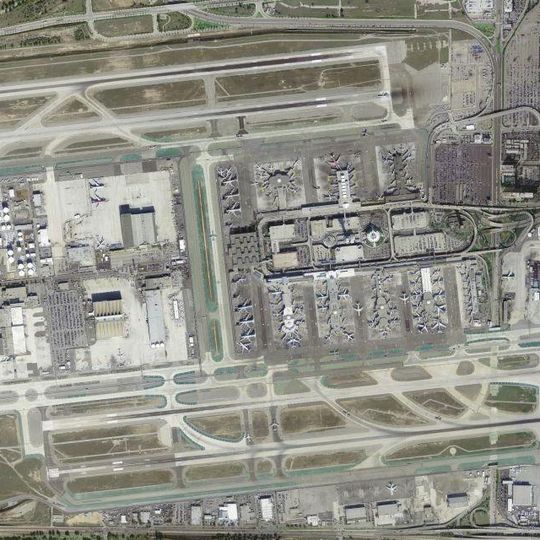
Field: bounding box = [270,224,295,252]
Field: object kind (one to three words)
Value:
building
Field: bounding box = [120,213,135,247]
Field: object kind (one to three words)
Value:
hangar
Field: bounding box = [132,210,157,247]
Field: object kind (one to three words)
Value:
hangar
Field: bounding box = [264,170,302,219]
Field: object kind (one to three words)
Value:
building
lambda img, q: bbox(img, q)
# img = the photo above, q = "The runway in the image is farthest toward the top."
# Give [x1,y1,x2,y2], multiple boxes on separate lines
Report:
[0,42,386,100]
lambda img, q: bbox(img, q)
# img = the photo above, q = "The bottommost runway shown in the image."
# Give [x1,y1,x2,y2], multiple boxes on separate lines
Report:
[48,412,540,481]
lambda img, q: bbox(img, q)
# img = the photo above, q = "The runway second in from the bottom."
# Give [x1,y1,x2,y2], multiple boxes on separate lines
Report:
[41,364,540,433]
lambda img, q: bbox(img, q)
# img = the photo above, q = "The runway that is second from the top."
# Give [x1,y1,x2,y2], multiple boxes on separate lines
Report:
[0,86,390,146]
